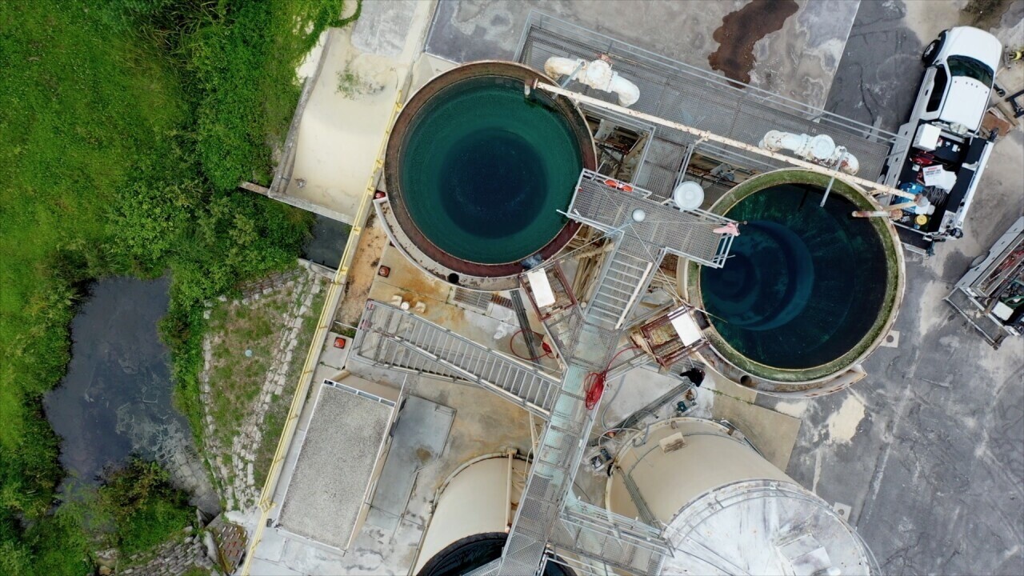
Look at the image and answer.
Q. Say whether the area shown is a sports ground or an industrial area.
industrial area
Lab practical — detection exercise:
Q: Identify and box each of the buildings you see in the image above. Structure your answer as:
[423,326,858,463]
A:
[275,377,413,559]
